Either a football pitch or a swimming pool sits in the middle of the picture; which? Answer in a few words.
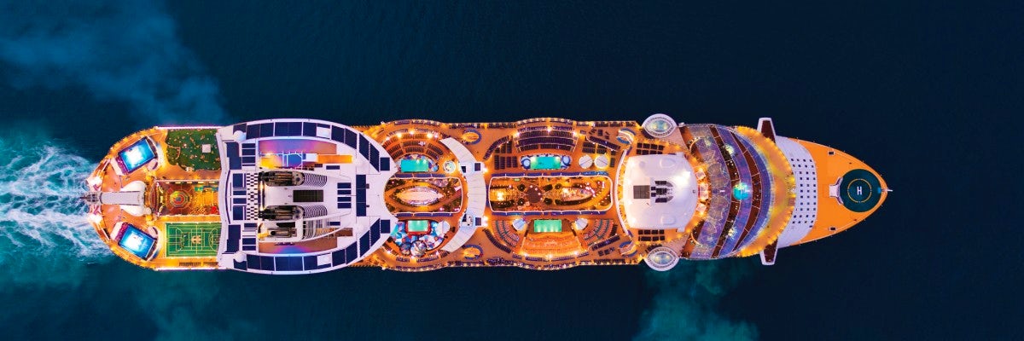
swimming pool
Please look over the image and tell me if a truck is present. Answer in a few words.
No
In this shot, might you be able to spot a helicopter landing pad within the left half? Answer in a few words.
No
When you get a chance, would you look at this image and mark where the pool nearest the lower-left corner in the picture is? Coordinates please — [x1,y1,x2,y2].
[108,218,161,262]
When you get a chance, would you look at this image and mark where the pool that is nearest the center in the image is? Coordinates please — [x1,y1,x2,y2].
[521,154,573,171]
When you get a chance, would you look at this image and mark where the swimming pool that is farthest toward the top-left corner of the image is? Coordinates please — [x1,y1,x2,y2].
[112,134,159,179]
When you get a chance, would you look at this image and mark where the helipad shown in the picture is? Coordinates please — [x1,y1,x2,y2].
[840,169,883,212]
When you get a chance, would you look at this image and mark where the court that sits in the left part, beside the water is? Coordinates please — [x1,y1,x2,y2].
[165,223,222,257]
